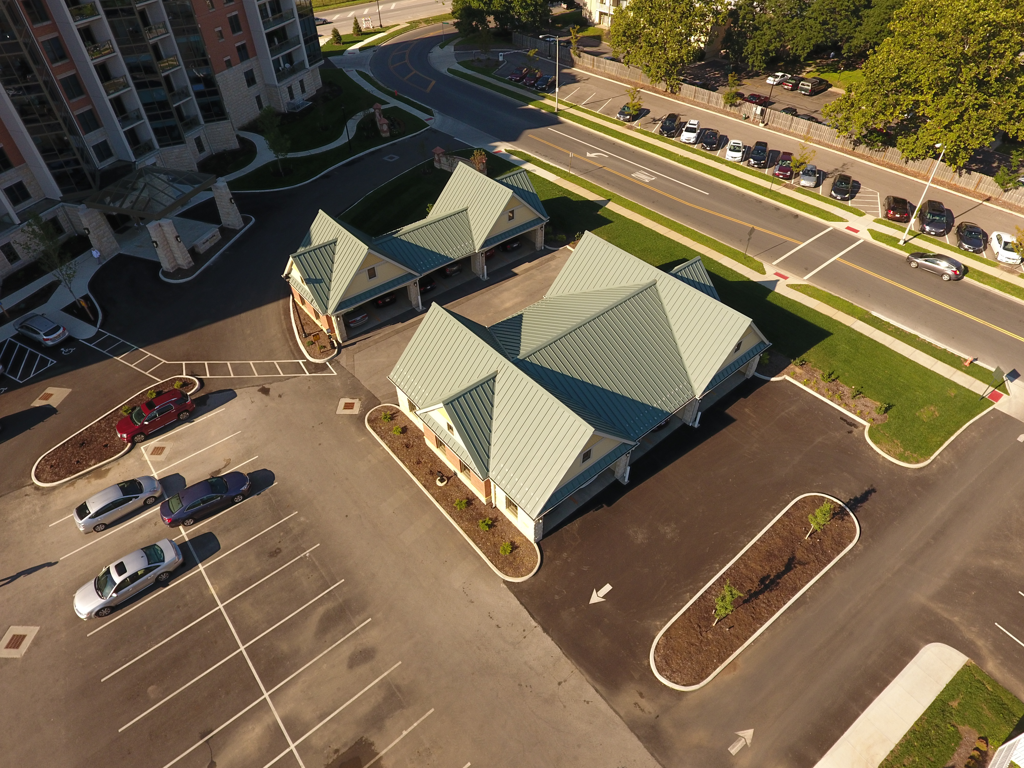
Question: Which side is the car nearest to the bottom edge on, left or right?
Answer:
left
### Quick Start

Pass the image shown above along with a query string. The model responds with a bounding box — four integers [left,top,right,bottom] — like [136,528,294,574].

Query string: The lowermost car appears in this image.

[71,542,178,622]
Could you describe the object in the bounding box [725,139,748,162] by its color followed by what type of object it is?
white car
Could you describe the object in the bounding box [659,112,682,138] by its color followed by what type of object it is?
black car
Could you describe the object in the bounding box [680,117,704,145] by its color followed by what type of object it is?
white car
